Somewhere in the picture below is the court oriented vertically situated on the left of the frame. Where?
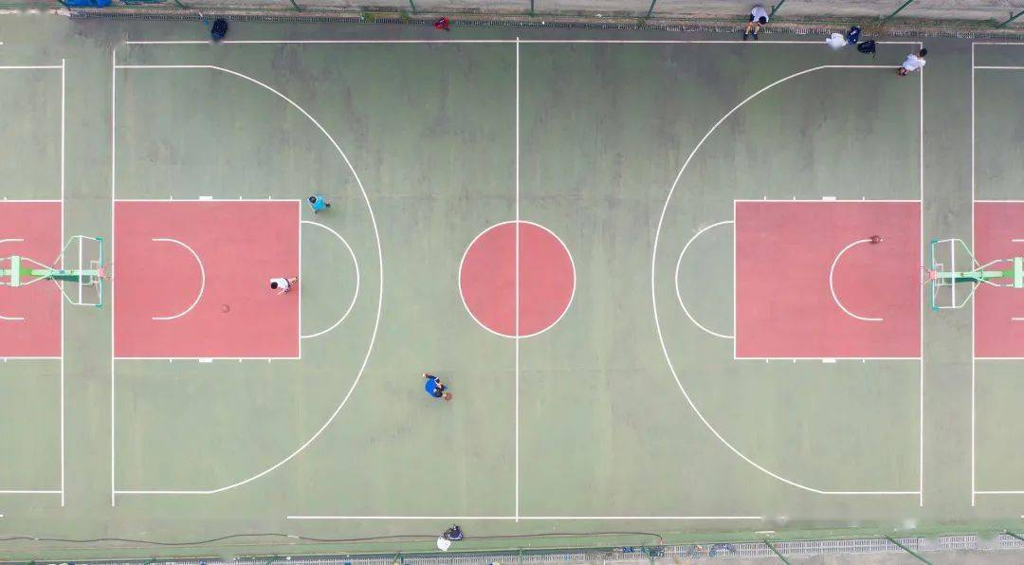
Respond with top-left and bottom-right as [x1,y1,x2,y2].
[0,42,63,517]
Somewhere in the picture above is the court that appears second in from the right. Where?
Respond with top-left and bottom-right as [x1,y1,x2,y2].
[113,37,923,522]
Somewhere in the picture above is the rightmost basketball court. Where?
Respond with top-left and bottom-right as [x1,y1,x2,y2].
[972,43,1024,517]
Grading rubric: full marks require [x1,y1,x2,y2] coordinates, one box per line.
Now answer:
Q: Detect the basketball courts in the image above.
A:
[972,43,1024,517]
[0,42,63,517]
[113,37,923,522]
